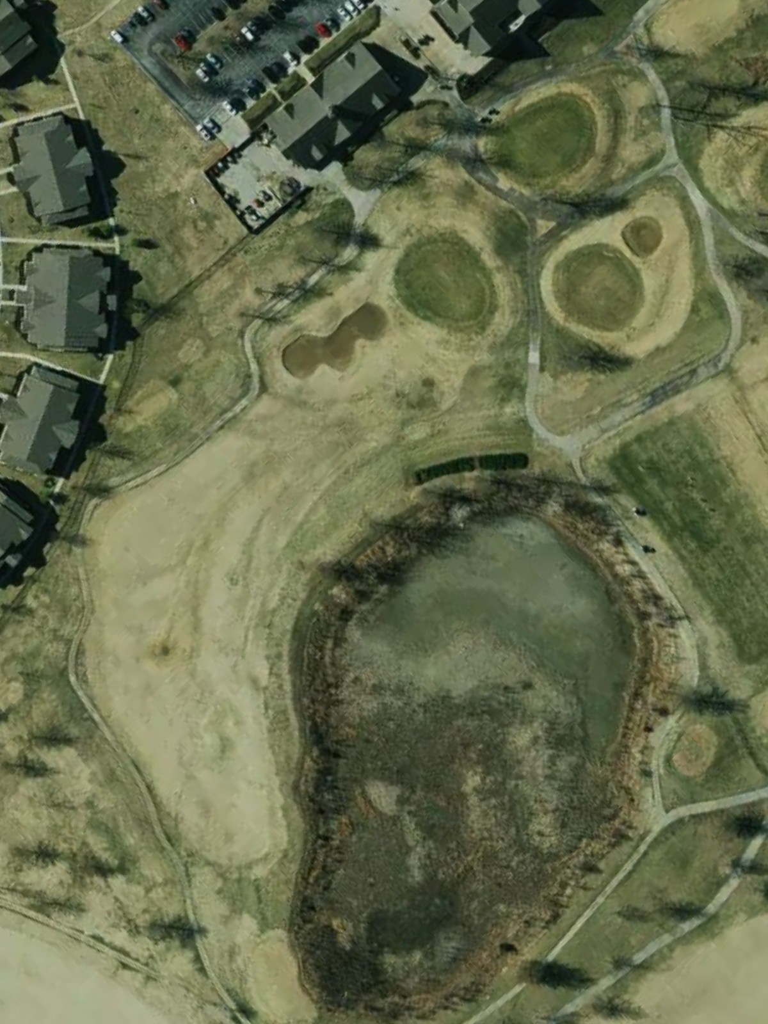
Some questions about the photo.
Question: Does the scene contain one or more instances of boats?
No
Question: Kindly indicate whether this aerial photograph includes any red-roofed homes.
No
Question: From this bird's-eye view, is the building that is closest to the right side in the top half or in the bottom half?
top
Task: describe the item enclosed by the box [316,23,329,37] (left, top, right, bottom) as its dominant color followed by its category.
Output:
red vehicle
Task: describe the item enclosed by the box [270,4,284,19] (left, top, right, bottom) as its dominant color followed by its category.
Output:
black car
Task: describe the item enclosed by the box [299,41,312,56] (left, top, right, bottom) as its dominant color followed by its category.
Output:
black vehicle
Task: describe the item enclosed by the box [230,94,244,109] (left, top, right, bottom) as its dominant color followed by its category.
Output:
black car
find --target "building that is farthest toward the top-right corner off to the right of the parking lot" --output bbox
[430,0,550,59]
